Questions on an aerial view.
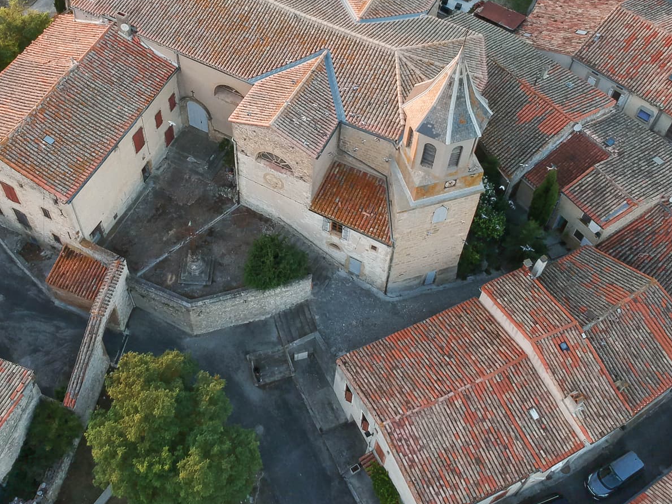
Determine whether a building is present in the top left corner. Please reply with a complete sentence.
Yes, the scene does show a building in the top left corner.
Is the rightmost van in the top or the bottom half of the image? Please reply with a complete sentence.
The rightmost van sits in the bottom half of the picture.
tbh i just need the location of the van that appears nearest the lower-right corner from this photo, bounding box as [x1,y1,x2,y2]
[586,444,655,499]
